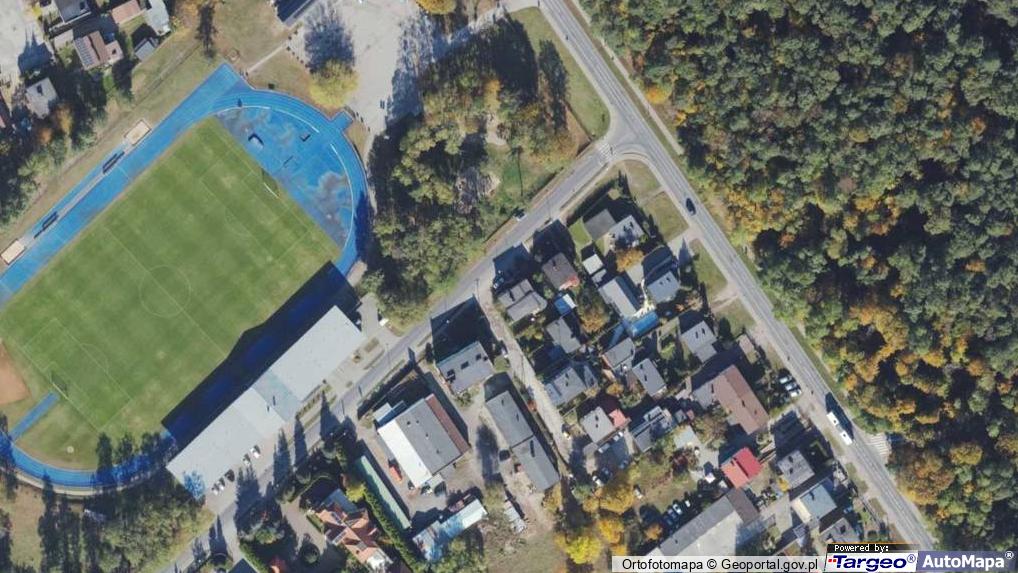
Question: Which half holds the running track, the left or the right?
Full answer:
The running track sits on the left side.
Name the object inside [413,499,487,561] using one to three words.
building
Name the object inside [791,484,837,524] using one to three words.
house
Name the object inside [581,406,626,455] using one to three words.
house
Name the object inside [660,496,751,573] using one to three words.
building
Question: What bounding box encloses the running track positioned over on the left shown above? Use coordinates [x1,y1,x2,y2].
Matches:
[0,62,373,495]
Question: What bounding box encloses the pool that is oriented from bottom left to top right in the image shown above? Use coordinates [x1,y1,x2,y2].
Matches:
[627,307,665,340]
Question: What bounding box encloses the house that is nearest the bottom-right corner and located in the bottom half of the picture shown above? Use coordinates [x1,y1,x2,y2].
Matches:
[819,517,862,560]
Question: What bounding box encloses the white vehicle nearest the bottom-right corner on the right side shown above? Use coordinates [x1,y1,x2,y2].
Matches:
[827,413,852,445]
